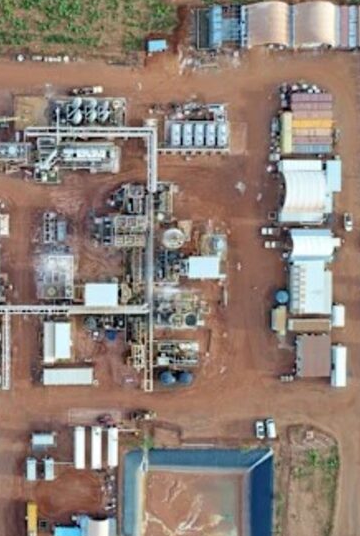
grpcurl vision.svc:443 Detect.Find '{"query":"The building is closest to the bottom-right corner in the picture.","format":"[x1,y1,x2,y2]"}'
[293,335,331,376]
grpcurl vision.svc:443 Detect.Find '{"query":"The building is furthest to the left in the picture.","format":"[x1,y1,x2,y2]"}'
[0,161,30,176]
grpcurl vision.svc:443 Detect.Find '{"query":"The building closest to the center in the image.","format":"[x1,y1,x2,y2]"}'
[186,256,219,278]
